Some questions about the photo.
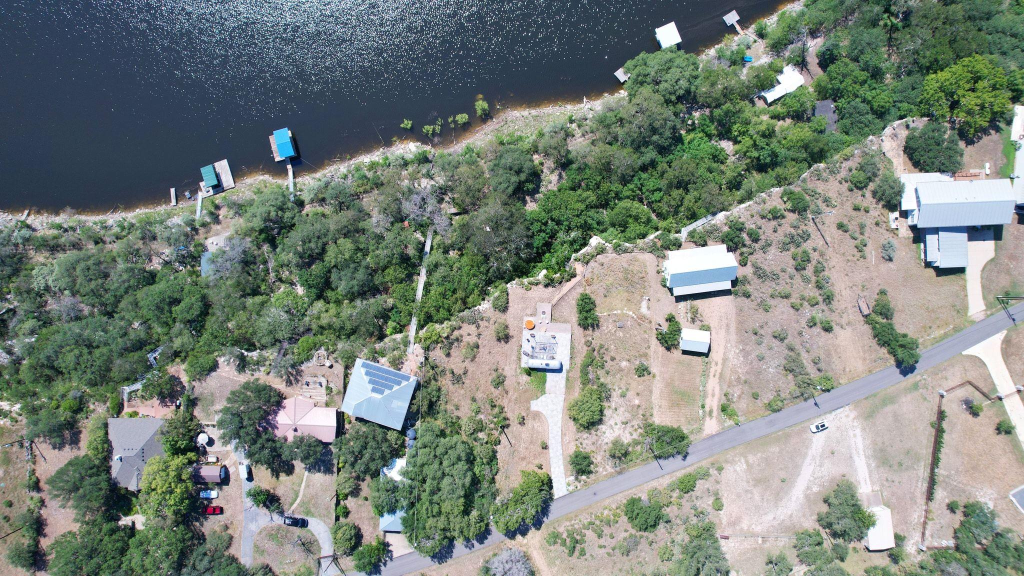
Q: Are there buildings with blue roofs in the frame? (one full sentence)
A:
Yes, there's a building with a blue roof down there.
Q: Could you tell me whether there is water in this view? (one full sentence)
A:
Yes, water can be seen from above here.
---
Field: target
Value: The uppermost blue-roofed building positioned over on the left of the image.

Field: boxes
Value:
[268,128,298,162]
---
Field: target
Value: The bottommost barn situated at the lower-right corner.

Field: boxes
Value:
[857,504,895,551]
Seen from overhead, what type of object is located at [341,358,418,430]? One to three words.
house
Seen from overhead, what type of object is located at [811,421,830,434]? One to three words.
vehicle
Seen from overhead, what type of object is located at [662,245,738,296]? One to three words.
house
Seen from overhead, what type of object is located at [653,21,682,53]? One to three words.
building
